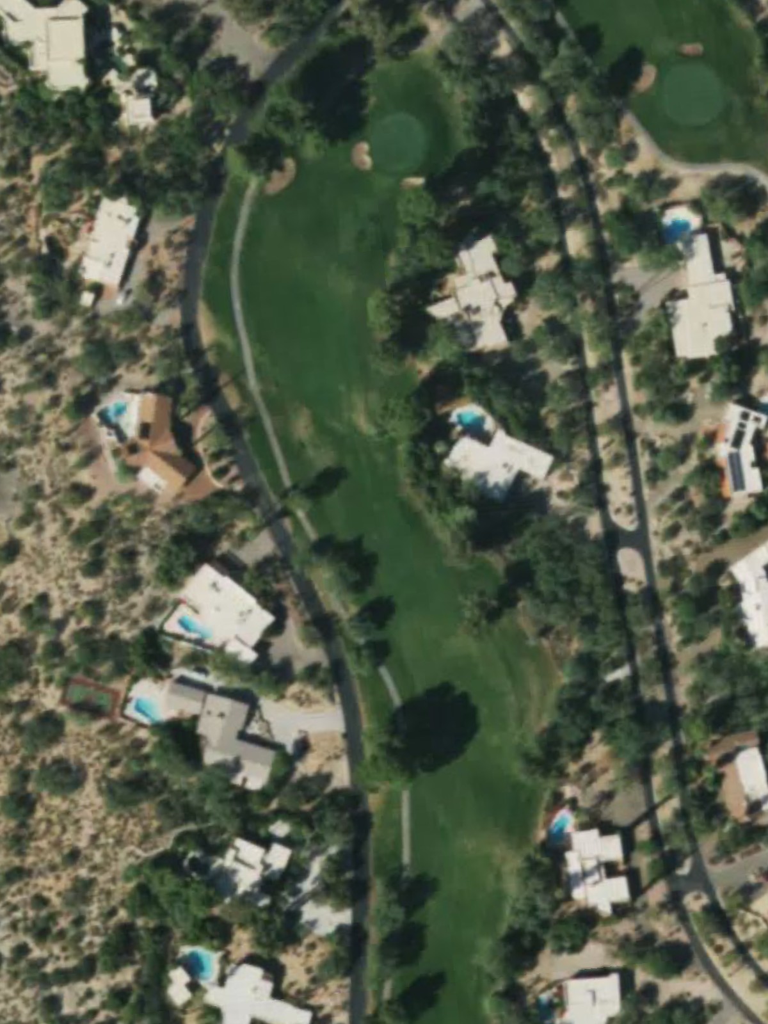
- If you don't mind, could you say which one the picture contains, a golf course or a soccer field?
golf course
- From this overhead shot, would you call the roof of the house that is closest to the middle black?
No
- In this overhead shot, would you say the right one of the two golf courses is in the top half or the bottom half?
top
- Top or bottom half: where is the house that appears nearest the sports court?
bottom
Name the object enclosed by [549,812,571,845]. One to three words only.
swimming pool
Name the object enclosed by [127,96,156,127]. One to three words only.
house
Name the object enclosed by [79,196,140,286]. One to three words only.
house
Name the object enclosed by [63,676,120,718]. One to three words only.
sports court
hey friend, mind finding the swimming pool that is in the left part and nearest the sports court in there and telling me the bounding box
[134,695,164,724]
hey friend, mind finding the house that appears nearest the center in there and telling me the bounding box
[446,428,554,499]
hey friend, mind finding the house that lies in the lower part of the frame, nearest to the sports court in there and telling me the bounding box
[167,682,277,791]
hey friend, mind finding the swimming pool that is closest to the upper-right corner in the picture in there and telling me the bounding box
[658,218,693,245]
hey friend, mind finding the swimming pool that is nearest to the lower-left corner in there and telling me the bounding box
[183,948,213,982]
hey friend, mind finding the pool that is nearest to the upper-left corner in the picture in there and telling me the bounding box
[97,401,128,427]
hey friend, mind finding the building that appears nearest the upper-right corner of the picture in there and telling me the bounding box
[666,232,736,358]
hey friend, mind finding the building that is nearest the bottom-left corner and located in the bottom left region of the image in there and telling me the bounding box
[167,967,191,1007]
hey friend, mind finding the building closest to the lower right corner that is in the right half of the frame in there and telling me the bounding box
[563,973,621,1024]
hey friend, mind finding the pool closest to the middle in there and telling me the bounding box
[456,410,487,434]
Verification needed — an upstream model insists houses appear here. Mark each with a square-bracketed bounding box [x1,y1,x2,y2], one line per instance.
[0,0,88,90]
[127,96,156,127]
[167,682,277,791]
[215,838,292,908]
[715,402,768,499]
[565,829,632,917]
[202,965,312,1024]
[730,540,768,647]
[719,748,768,820]
[563,973,621,1024]
[125,393,195,496]
[666,232,736,358]
[184,563,275,663]
[427,234,517,351]
[79,196,140,286]
[167,967,191,1007]
[269,820,291,838]
[446,428,554,499]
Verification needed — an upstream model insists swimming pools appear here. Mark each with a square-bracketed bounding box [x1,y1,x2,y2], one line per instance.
[134,695,164,724]
[658,218,693,245]
[177,614,213,640]
[456,410,487,434]
[758,401,768,415]
[97,401,128,427]
[549,812,571,845]
[183,948,213,982]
